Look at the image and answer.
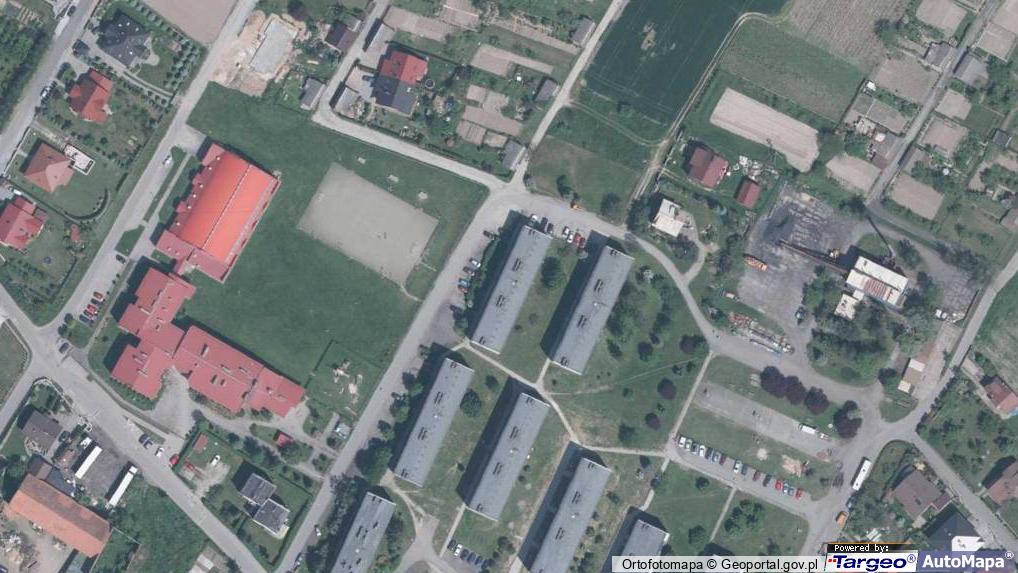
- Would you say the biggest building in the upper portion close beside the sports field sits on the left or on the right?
left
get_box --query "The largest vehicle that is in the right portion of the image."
[853,459,871,489]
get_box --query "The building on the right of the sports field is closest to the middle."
[471,225,553,356]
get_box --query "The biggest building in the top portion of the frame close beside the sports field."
[155,143,281,284]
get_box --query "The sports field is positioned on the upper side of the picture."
[298,163,439,286]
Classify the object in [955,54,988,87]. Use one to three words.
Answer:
building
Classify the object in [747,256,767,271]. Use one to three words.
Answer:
vehicle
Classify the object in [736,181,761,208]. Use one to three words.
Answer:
shed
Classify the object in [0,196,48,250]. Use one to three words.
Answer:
house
